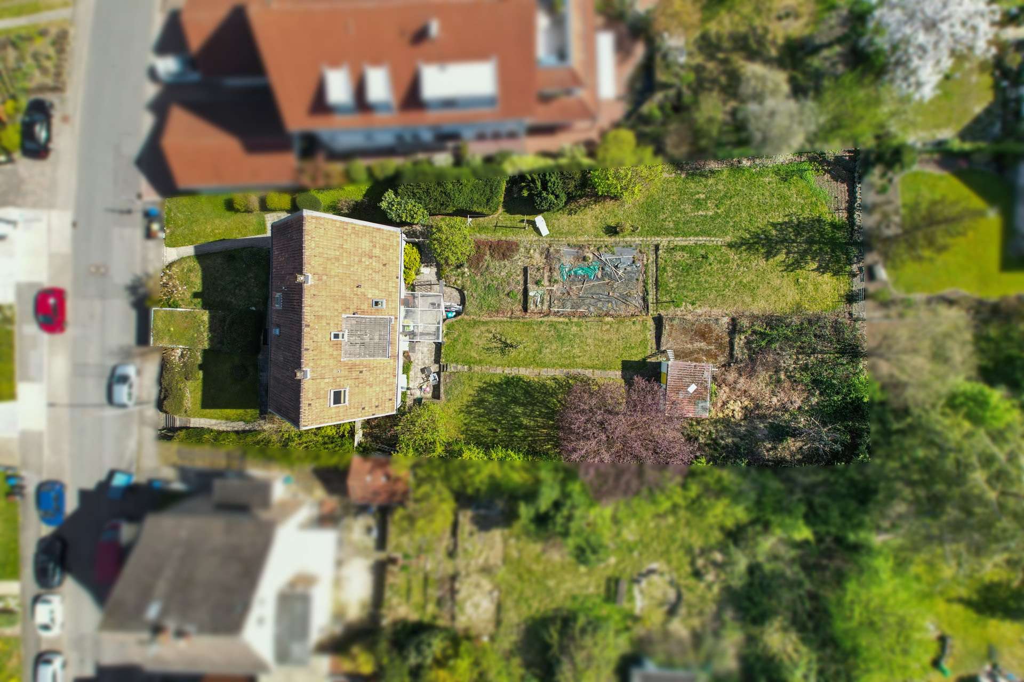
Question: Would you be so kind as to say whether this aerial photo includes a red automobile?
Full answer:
Yes, the image includes a red automobile.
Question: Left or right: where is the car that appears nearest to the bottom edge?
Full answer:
The car that appears nearest to the bottom edge appears in the left half of the scene.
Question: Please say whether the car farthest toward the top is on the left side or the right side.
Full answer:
The car farthest toward the top appears in the left half of the scene.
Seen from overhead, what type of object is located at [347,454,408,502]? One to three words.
shed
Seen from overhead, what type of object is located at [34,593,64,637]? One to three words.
car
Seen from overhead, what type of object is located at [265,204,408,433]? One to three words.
house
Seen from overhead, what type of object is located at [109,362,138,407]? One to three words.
car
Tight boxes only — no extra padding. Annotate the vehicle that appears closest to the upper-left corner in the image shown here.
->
[21,103,51,156]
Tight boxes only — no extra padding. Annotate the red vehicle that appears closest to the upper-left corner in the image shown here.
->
[34,287,64,334]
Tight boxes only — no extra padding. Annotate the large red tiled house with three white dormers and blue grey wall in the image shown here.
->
[159,0,597,193]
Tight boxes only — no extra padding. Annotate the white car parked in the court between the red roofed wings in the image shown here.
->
[151,55,201,82]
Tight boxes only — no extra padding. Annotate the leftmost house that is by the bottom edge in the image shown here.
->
[97,471,344,682]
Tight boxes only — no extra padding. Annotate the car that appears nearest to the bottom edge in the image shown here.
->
[37,647,65,682]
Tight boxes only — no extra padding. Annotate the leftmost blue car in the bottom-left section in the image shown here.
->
[36,480,66,528]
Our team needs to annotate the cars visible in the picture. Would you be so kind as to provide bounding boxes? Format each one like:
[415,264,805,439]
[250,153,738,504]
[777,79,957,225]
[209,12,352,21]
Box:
[21,103,51,156]
[35,535,66,589]
[37,647,65,682]
[34,287,64,334]
[109,362,138,407]
[96,527,126,580]
[36,480,66,528]
[151,55,201,82]
[34,593,64,637]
